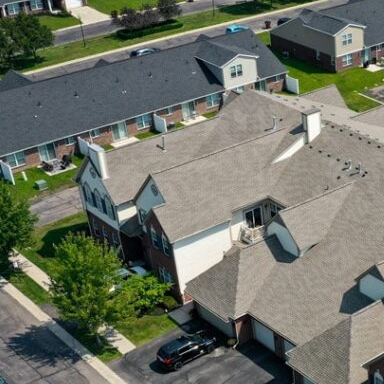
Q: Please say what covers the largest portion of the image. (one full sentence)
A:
The largest share of the image is taken up by buildings.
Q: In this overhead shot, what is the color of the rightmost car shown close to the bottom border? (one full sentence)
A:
In this view, the rightmost car shown close to the bottom border is black.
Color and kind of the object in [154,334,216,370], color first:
black car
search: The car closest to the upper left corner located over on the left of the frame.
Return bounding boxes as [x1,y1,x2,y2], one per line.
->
[128,42,160,55]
